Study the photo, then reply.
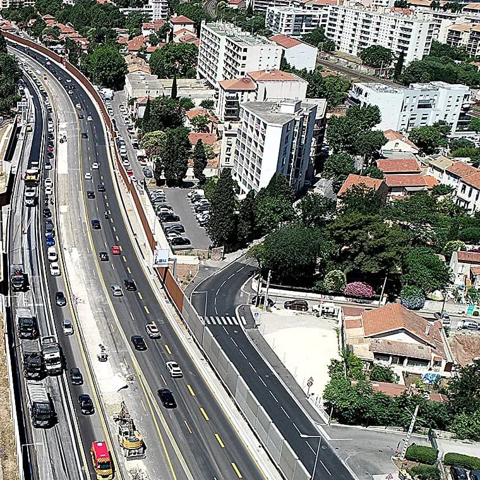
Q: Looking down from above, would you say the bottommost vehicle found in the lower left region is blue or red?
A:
red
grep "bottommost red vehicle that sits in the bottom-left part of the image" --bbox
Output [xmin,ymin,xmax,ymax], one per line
[90,441,113,480]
